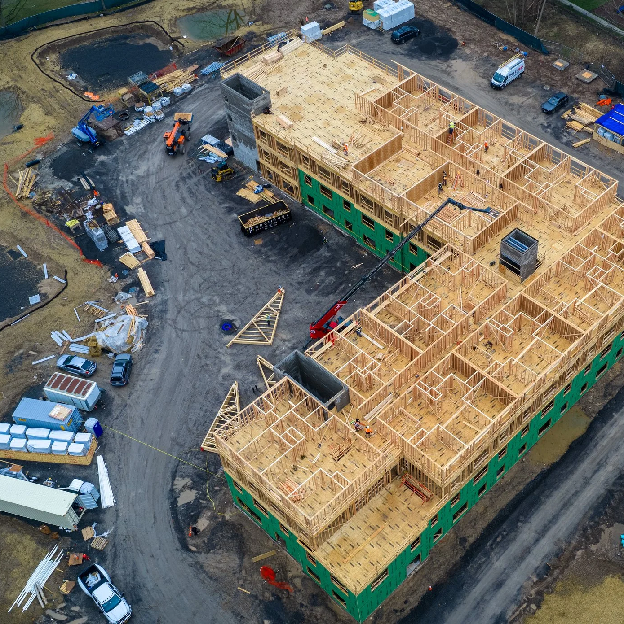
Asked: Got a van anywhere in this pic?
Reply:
Yes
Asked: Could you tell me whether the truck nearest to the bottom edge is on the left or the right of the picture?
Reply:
left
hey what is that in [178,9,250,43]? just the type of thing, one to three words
pond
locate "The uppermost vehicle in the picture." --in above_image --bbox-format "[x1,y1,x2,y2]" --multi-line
[348,0,365,18]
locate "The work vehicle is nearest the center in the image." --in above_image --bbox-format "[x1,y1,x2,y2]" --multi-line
[207,159,239,181]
